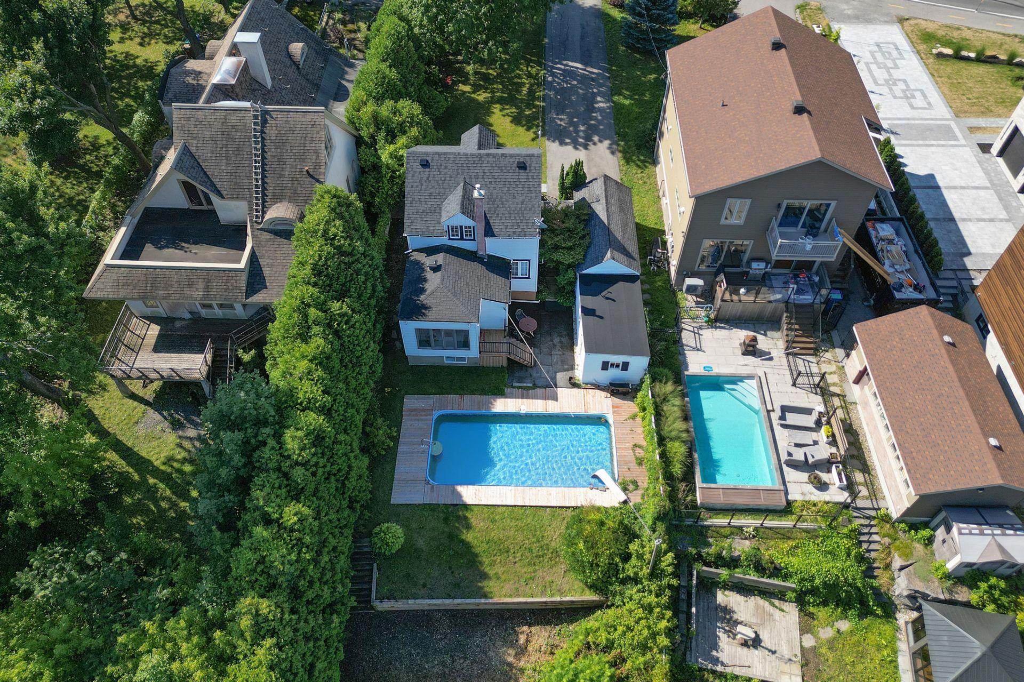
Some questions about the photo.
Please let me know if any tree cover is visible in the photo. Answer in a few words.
Yes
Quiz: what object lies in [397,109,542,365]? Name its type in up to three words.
house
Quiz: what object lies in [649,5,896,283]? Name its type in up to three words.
house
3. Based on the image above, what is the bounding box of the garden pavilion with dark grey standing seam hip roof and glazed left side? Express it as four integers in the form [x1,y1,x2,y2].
[887,598,1024,682]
